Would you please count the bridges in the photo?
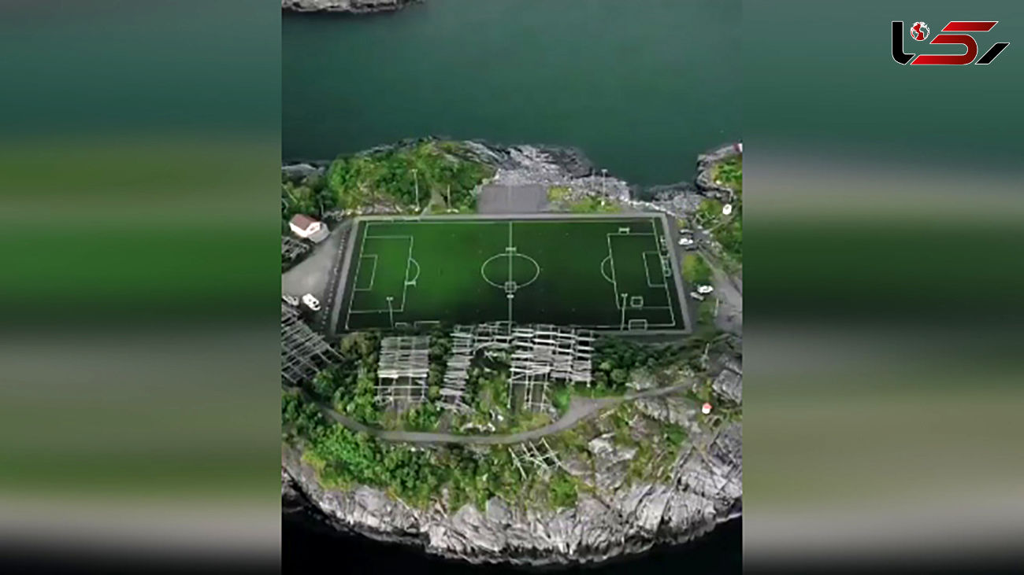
0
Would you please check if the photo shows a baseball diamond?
No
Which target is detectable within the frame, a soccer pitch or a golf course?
soccer pitch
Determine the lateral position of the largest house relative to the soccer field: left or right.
on its left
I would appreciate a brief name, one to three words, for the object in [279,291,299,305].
vehicle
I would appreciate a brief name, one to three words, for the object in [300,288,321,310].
camper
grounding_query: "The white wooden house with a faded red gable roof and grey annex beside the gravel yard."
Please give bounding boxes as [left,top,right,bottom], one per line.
[289,211,327,241]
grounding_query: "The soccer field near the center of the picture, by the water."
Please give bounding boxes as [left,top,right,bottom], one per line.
[328,213,691,335]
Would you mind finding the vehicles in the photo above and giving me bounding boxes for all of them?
[300,288,321,310]
[697,285,714,295]
[685,245,699,252]
[679,240,694,246]
[689,292,706,301]
[279,291,299,305]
